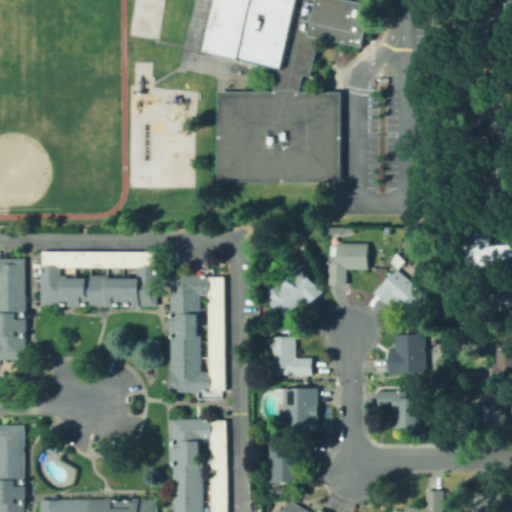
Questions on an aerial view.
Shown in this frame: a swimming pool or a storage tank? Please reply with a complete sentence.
Looking from above, you can make out a swimming pool.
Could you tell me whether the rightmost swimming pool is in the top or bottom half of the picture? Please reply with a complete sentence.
The rightmost swimming pool is in the bottom half of the image.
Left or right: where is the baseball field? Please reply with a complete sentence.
You can find the baseball field on the left side of the picture.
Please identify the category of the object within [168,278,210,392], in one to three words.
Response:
building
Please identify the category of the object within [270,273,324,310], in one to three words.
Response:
house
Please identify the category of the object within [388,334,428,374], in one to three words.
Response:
house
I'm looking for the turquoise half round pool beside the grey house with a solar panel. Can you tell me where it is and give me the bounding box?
[260,388,286,420]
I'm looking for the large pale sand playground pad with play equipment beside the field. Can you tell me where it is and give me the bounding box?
[130,62,200,188]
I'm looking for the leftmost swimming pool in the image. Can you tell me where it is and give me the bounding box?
[42,450,76,487]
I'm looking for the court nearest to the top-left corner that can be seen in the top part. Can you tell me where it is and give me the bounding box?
[130,0,164,40]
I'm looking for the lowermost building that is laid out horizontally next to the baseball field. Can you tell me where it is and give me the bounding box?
[40,267,156,307]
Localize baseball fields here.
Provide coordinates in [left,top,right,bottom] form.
[0,0,121,214]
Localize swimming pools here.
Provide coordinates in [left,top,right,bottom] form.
[260,388,286,420]
[42,450,76,487]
